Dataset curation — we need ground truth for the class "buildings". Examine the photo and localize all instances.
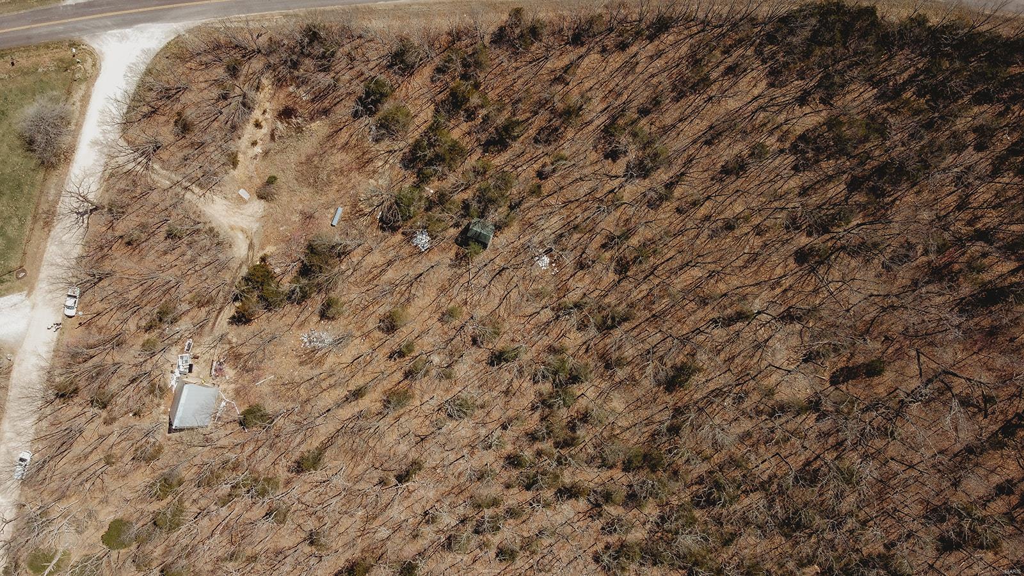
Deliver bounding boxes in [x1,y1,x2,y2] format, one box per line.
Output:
[169,375,219,428]
[468,218,496,245]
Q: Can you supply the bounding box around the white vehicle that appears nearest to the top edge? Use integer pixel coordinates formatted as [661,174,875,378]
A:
[64,286,82,318]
